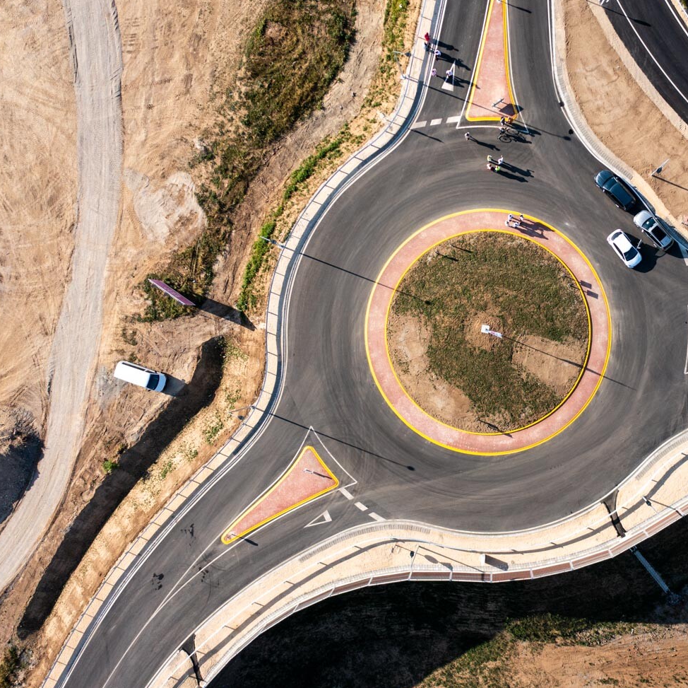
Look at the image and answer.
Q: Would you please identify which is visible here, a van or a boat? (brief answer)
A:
van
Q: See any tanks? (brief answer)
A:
No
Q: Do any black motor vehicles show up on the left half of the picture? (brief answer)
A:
No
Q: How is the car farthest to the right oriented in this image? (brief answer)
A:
at an angle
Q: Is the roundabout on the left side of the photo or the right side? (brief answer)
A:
right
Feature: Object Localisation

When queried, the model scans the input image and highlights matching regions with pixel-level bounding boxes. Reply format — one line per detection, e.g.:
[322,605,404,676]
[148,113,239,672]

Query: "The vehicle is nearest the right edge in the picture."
[633,212,674,253]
